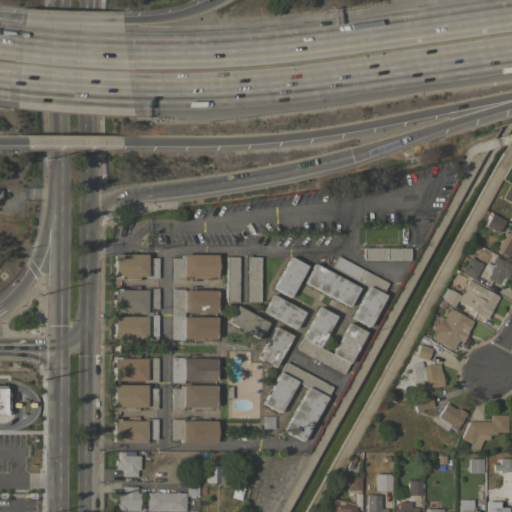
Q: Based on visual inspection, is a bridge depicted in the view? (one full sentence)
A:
Yes, looking at the shot, I can spot a bridge.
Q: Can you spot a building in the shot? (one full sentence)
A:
Yes, a building appears in the view.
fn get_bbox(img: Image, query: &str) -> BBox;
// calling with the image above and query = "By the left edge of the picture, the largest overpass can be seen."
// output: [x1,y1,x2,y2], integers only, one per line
[17,6,131,118]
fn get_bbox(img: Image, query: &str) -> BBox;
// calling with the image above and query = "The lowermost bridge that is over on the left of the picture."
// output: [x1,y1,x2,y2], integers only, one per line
[28,135,124,152]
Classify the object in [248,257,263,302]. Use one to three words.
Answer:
building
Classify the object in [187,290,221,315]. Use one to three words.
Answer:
building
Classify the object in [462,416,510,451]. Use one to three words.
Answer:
house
